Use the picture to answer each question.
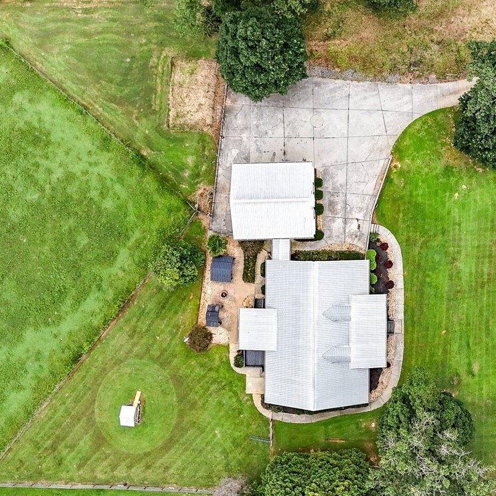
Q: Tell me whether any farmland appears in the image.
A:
Yes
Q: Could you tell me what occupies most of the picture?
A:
grass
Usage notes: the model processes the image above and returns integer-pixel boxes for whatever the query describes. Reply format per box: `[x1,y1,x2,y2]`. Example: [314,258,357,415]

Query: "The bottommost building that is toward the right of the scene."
[238,260,388,411]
